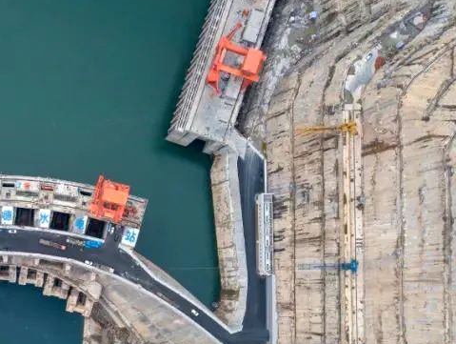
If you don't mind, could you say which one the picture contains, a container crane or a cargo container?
container crane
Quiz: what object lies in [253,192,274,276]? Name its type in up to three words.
building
